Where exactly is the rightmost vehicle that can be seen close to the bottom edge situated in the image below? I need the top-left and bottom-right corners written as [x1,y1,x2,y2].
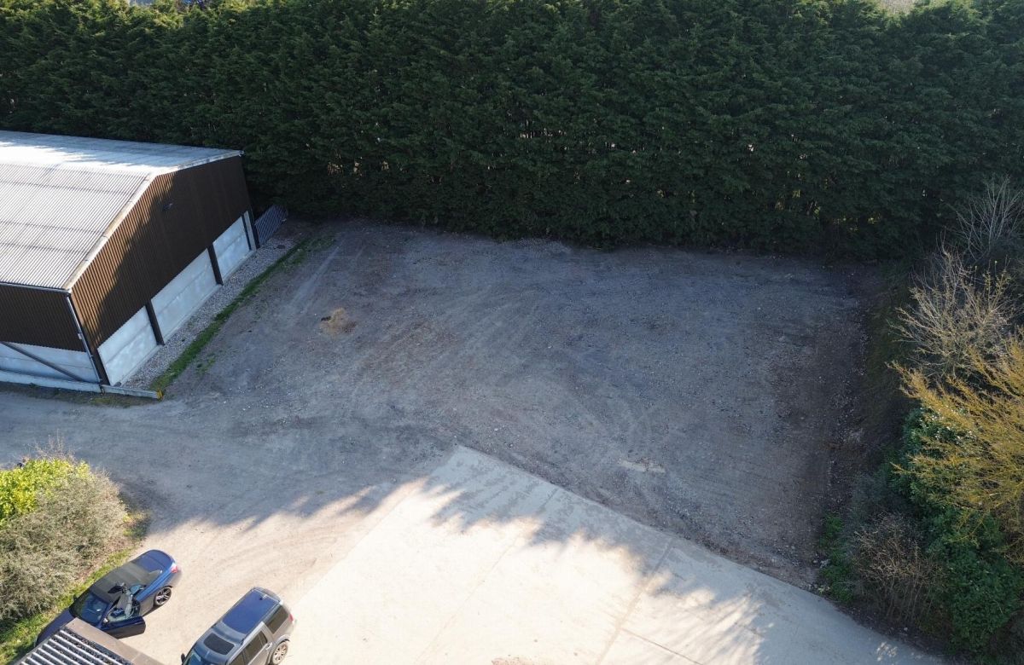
[184,585,304,665]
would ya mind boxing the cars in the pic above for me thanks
[184,585,304,665]
[47,549,182,638]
